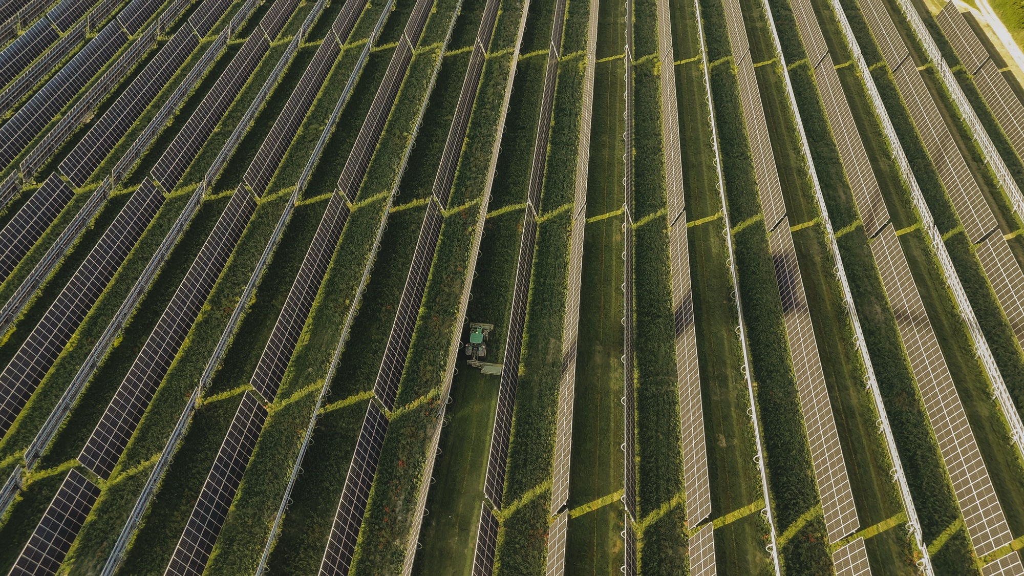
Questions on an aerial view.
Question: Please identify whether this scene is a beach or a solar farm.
solar farm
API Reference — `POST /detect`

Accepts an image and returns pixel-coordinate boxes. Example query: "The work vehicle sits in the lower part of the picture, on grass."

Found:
[464,321,502,378]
